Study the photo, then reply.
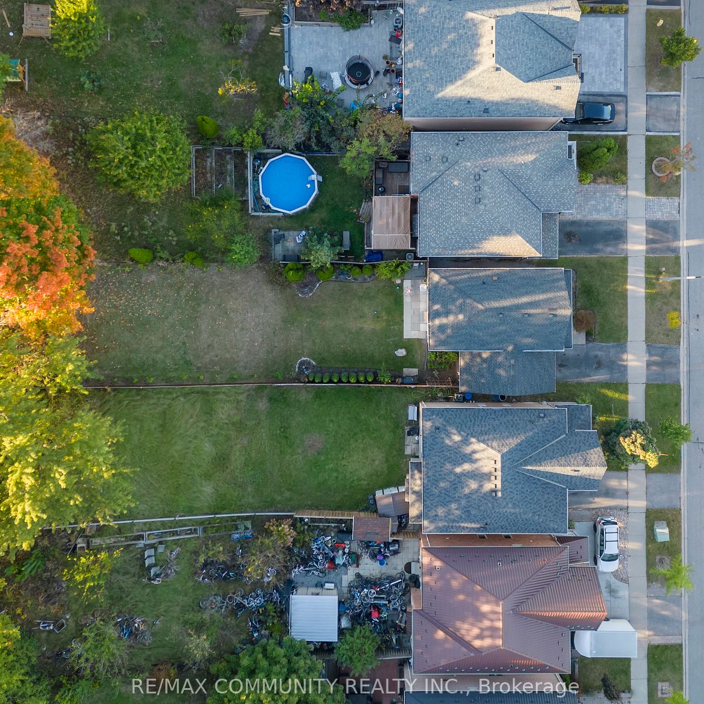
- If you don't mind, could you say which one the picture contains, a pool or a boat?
pool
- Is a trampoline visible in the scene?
Yes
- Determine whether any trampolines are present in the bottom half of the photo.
No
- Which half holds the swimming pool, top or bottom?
top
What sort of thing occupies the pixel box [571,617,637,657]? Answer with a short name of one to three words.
truck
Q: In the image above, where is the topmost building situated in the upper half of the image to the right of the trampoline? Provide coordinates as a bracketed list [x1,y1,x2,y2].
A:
[403,0,582,131]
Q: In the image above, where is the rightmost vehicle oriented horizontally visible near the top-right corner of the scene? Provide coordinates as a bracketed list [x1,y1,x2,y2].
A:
[560,100,617,127]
